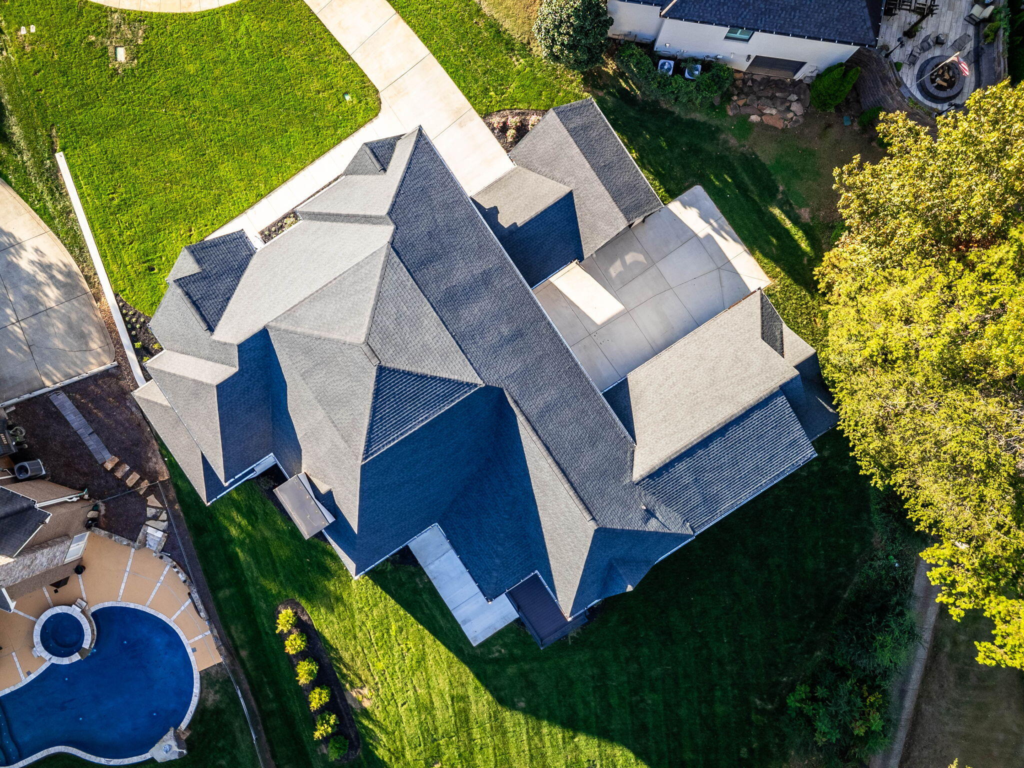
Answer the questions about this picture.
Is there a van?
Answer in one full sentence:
No, this view has no van in it.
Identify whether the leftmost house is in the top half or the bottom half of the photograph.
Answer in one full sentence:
The leftmost house is in the bottom half of the image.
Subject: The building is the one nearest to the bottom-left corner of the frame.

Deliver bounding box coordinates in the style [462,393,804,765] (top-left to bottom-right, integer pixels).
[0,457,91,613]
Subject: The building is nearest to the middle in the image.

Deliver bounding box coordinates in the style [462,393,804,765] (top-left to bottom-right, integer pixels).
[131,98,842,619]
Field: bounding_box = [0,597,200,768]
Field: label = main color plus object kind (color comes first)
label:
blue swimming pool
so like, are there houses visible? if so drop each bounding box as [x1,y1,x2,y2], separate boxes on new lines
[608,0,888,75]
[131,98,842,619]
[0,457,91,613]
